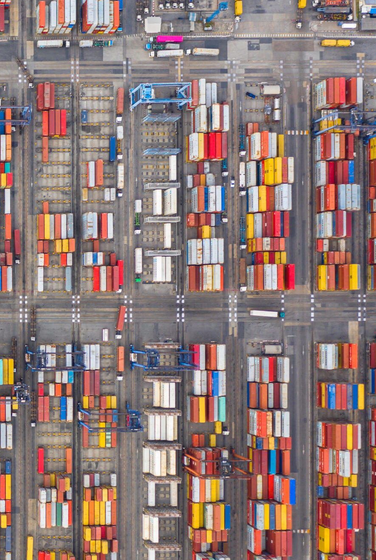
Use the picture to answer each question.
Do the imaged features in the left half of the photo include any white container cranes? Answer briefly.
No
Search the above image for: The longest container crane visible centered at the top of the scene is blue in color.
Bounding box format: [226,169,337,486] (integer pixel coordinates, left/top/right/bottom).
[127,81,192,114]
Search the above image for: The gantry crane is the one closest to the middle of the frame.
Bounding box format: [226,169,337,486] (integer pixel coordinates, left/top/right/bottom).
[128,346,193,373]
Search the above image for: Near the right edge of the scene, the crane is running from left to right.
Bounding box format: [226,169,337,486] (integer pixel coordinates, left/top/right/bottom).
[308,108,376,139]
